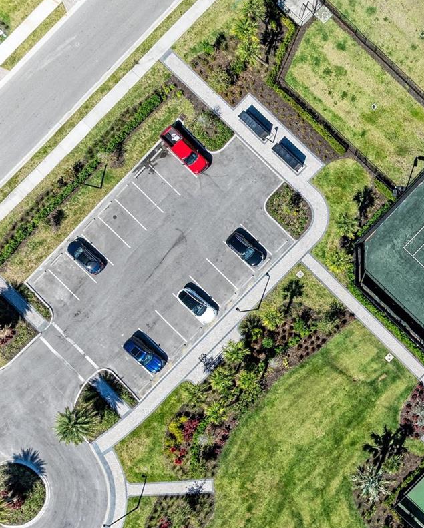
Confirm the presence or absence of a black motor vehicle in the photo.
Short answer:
Yes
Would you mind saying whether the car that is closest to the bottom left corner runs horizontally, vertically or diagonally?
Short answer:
diagonally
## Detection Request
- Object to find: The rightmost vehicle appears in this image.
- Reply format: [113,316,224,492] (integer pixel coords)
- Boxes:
[227,229,265,266]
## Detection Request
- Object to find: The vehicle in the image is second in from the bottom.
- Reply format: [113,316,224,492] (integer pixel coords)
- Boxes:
[175,286,214,325]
